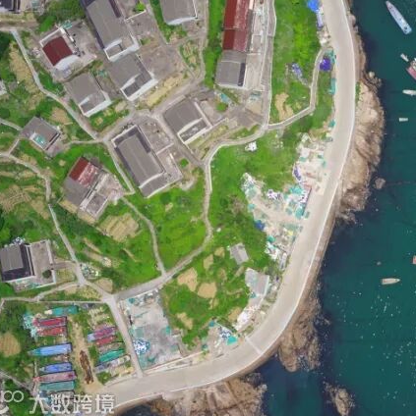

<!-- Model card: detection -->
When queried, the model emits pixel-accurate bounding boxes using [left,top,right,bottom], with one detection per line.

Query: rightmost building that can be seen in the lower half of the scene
[244,270,271,293]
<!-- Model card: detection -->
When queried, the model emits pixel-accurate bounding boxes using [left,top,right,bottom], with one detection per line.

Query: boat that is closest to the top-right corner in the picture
[387,1,411,34]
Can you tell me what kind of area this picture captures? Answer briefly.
residential area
